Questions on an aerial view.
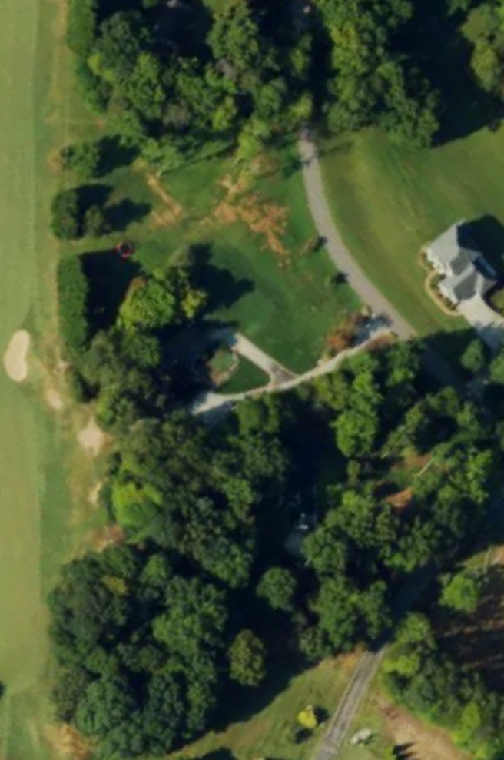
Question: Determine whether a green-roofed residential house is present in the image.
No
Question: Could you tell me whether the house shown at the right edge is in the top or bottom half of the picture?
top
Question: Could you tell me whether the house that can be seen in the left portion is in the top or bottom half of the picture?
top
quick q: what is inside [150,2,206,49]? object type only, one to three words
house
